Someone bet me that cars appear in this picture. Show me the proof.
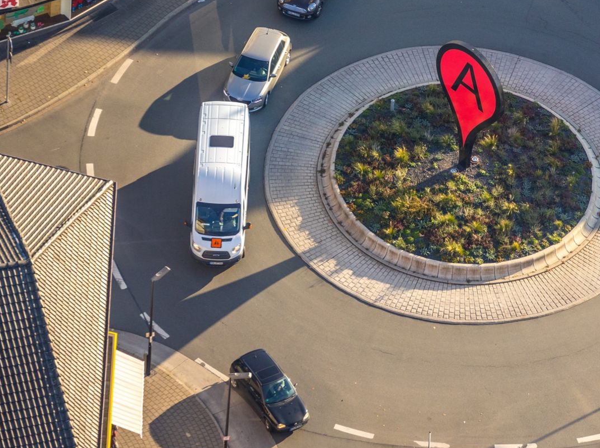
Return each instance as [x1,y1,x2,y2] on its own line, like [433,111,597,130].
[235,347,312,433]
[277,0,324,20]
[223,23,290,115]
